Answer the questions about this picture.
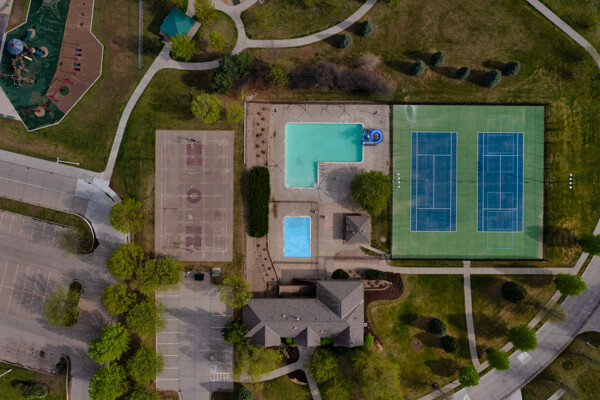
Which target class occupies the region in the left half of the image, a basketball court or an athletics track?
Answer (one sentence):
What appears in the left half of the image is a basketball court.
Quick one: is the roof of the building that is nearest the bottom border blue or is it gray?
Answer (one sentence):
The roof of the building that is nearest the bottom border looks gray in the image.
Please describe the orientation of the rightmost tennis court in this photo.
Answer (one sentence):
The rightmost tennis court runs from top to bottom in the image.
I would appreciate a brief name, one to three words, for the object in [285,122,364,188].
swimming pool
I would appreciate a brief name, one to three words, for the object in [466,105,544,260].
tennis court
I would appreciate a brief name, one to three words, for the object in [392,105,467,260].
tennis court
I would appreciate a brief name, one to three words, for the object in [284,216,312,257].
swimming pool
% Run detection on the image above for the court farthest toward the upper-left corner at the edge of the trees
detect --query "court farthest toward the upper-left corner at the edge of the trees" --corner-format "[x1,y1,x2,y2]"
[155,130,234,261]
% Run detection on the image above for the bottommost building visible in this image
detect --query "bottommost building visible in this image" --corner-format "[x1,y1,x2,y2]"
[243,280,366,346]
